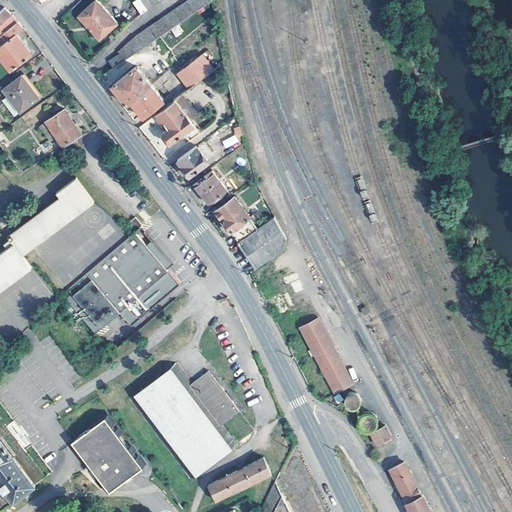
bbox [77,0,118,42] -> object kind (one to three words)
house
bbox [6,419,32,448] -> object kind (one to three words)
shed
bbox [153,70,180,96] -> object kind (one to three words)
building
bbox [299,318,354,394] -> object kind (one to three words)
building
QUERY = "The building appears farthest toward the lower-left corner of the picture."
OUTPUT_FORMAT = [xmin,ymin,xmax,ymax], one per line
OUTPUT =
[0,438,36,506]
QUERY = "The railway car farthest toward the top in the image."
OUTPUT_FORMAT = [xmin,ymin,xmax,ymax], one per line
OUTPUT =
[353,174,368,201]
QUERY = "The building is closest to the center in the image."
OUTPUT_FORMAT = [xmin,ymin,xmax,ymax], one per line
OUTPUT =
[238,218,288,270]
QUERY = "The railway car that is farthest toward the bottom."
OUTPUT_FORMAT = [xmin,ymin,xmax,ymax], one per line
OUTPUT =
[364,199,380,224]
